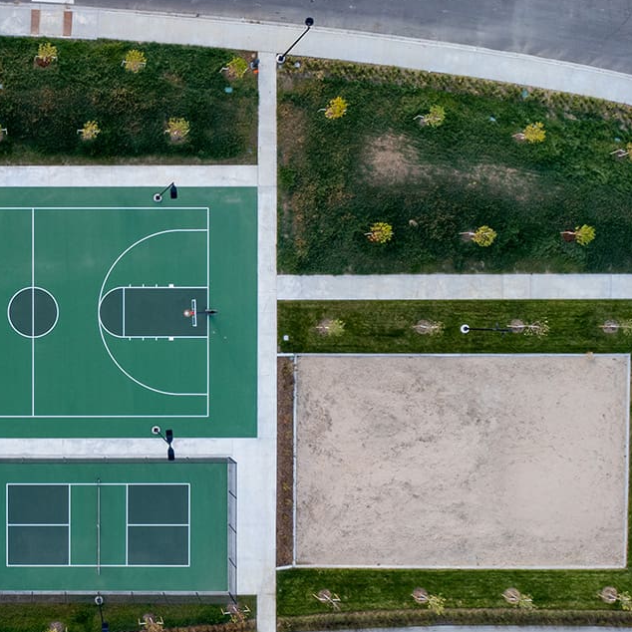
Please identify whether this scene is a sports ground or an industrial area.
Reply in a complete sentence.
It's a sports ground.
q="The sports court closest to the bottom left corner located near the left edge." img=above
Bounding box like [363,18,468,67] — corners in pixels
[0,458,228,591]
